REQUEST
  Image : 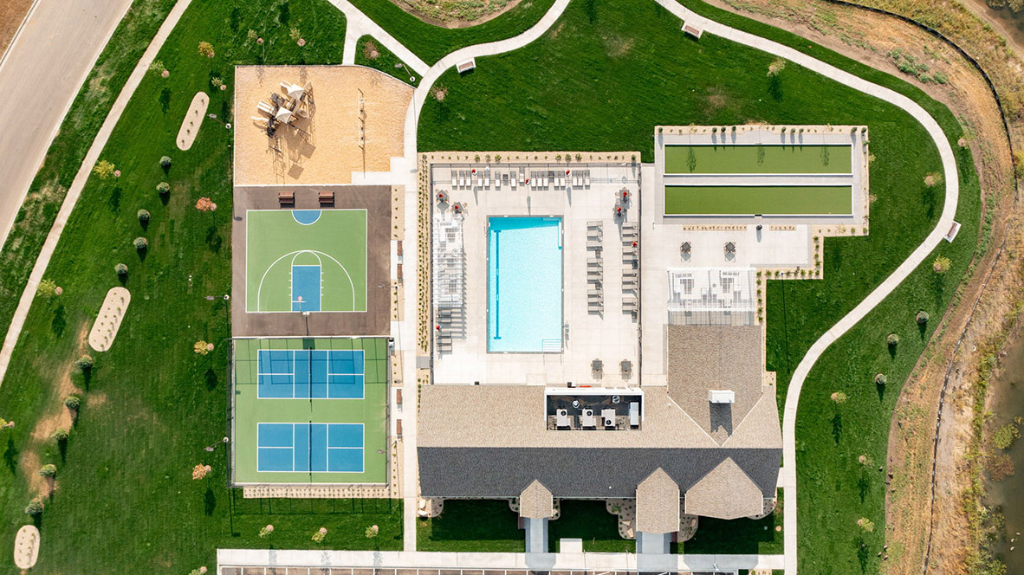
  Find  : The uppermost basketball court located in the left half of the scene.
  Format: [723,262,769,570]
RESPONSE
[233,185,390,336]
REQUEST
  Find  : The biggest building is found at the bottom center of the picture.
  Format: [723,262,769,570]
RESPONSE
[417,325,785,537]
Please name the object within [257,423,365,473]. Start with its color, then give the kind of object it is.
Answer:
blue sports court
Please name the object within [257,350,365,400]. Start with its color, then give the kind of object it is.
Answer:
blue sports court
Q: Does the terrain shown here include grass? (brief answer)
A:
Yes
